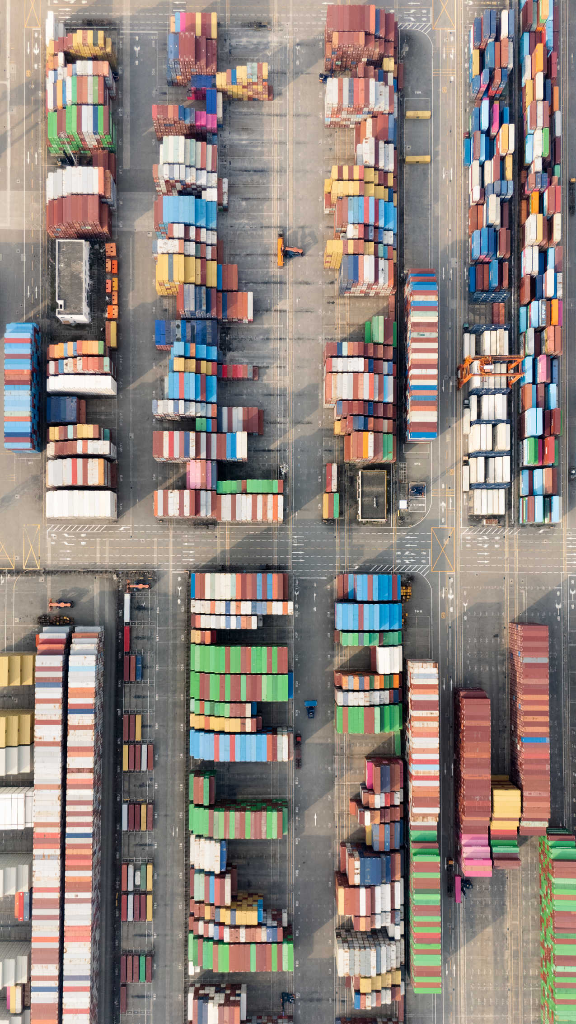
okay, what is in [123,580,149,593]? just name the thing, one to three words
vehicle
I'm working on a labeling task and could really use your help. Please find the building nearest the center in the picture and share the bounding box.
[358,471,387,521]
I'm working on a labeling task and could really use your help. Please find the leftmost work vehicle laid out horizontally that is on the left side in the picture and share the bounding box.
[46,598,73,611]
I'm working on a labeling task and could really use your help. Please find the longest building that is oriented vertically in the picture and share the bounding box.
[56,240,91,323]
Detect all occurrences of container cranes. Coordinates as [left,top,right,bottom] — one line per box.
[457,354,528,391]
